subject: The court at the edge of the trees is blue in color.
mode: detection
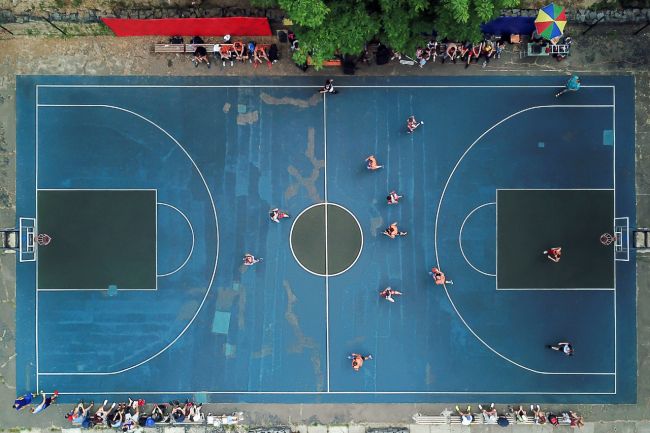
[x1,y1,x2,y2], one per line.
[16,76,637,404]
